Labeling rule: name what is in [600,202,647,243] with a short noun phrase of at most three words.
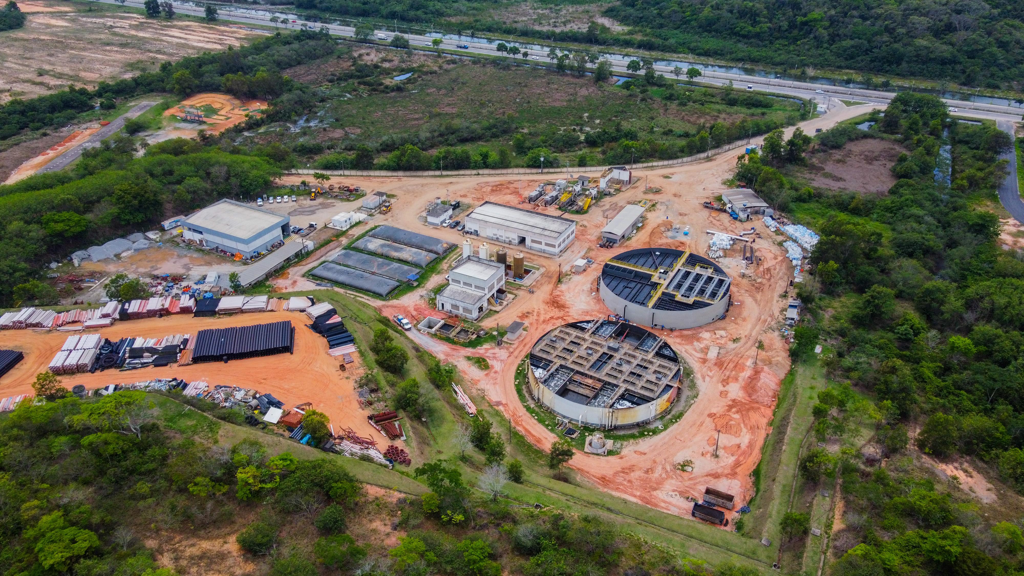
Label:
shed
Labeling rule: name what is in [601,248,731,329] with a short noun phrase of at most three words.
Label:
storage tank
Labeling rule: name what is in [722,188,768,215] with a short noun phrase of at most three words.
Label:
building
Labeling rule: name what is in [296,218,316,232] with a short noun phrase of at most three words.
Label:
vehicle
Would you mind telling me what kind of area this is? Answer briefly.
industrial area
